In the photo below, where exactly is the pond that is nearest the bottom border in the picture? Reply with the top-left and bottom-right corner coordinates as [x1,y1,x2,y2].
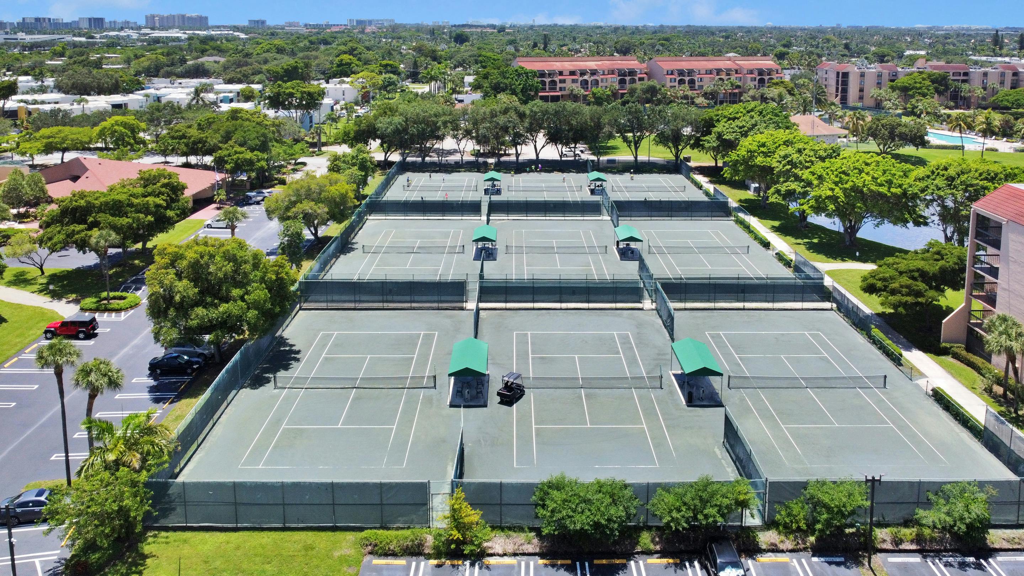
[781,189,1007,258]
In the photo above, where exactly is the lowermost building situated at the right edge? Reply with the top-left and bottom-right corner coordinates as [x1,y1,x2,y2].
[919,179,1024,383]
